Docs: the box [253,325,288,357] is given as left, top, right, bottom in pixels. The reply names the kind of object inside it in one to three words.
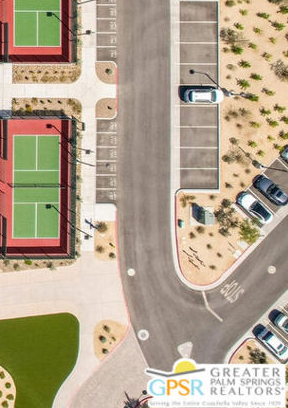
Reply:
car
